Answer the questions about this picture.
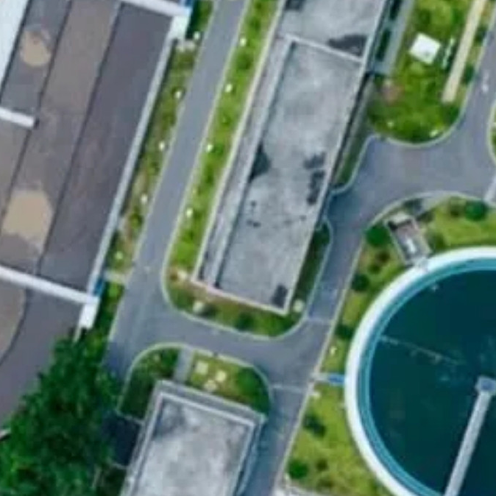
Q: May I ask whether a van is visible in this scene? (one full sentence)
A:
No, no van is visible in the view.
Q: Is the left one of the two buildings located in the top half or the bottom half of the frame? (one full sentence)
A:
It is in the bottom half that the left one of the two buildings appears.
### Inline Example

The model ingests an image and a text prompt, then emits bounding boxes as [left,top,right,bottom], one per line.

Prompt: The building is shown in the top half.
[192,0,390,314]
